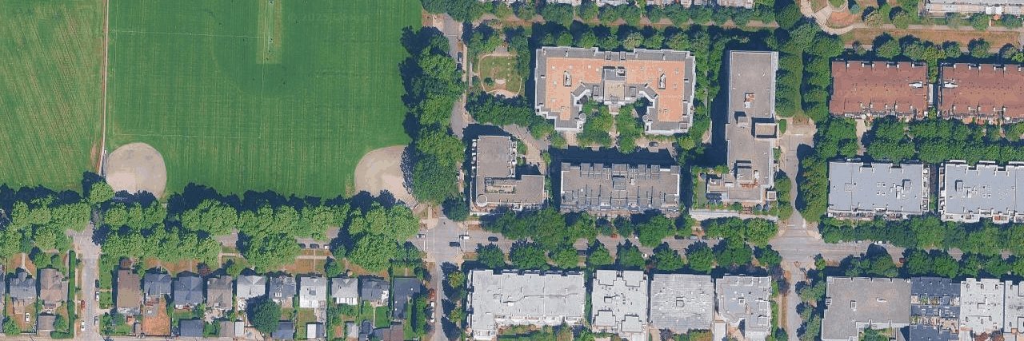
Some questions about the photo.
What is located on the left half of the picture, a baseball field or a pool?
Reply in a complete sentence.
Visible on the left half of the picture is a baseball field.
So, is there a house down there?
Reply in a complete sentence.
Yes, this view includes a house.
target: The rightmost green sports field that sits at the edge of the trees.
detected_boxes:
[105,0,422,208]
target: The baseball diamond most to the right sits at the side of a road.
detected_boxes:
[353,144,422,209]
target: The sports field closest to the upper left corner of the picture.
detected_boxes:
[0,0,103,200]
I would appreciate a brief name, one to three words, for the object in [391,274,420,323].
house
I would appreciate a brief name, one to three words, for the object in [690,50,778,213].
building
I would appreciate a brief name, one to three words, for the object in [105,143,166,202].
baseball field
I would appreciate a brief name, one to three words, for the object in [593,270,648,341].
building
